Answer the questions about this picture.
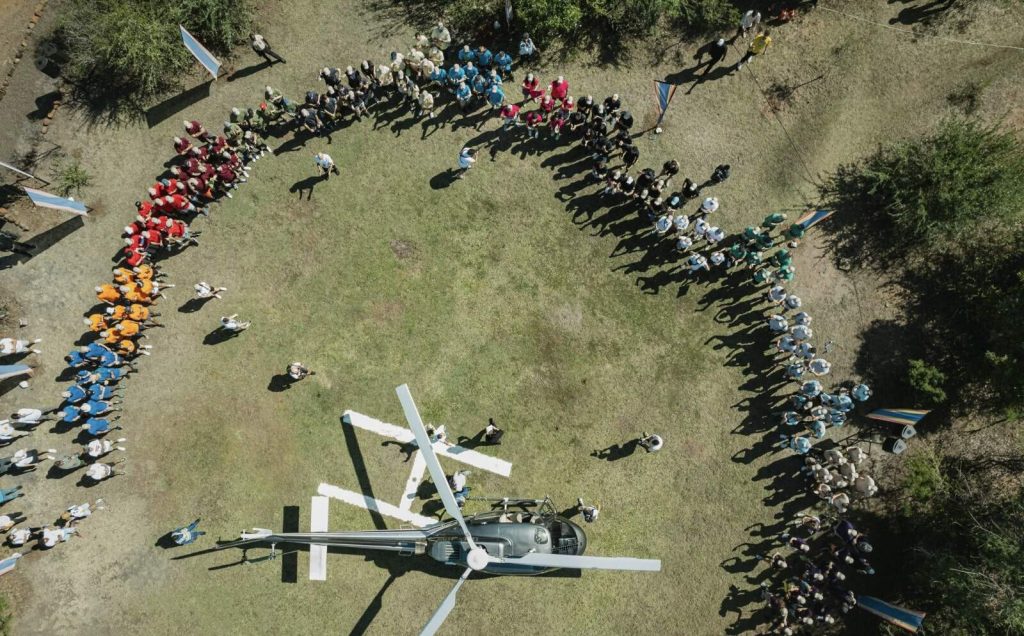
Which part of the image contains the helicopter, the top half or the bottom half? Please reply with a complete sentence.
The helicopter sits in the bottom half of the picture.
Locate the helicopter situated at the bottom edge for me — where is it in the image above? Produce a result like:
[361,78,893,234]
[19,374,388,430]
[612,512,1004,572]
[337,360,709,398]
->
[210,388,662,636]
